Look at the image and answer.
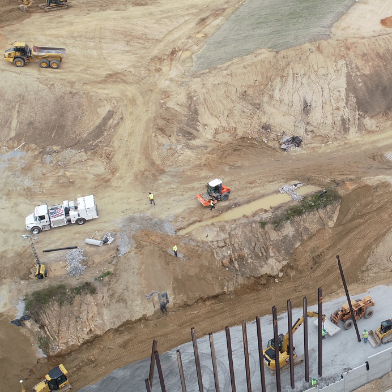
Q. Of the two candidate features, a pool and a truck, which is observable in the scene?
truck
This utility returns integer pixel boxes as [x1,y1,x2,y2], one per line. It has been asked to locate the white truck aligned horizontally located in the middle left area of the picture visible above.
[25,195,99,234]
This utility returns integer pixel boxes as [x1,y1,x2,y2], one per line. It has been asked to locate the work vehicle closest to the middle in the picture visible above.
[194,183,233,209]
